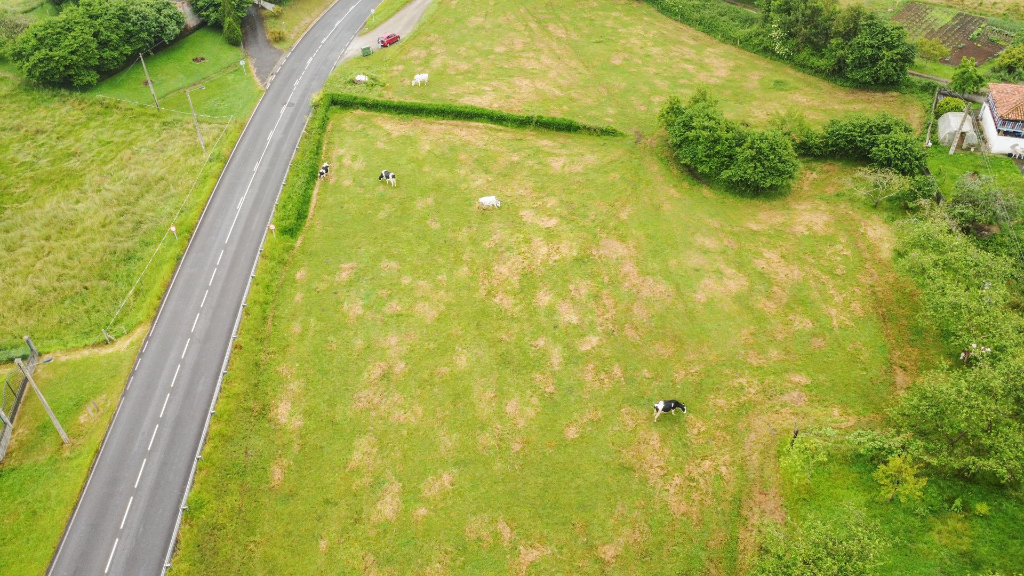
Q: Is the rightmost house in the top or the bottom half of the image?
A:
top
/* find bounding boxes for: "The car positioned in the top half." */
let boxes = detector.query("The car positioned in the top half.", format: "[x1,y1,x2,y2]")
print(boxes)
[375,32,400,47]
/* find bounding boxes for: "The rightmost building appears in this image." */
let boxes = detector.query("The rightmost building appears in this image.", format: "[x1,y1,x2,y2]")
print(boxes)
[976,81,1024,158]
